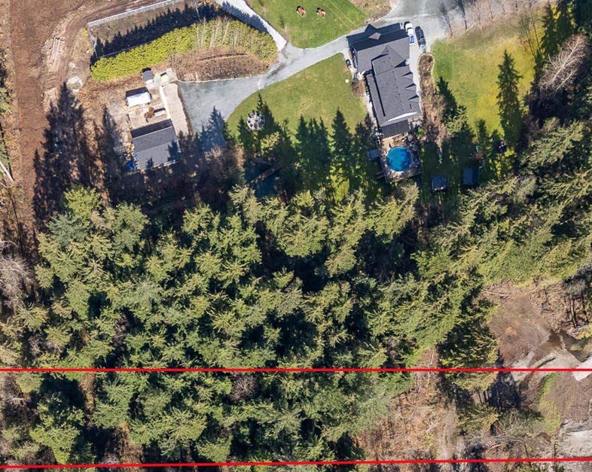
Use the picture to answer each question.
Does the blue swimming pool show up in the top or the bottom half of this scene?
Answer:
top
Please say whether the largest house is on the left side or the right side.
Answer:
right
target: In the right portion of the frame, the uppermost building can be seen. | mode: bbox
[348,28,425,144]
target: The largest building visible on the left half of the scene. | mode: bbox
[132,127,182,172]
